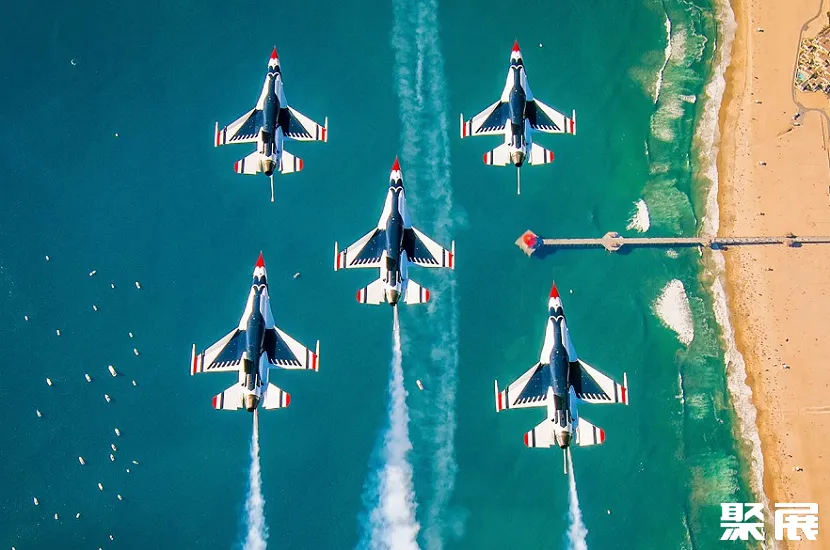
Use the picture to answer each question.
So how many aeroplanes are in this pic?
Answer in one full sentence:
Altogether the scene contains 5 aeroplanes.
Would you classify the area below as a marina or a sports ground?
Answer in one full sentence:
This image shows a marina.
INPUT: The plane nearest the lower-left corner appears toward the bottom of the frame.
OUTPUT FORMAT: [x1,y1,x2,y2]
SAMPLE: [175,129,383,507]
[191,252,318,435]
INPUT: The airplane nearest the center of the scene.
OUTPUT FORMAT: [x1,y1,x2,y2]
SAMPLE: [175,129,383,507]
[335,159,453,328]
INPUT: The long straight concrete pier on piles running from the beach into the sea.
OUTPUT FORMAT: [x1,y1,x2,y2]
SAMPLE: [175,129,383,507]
[516,229,830,256]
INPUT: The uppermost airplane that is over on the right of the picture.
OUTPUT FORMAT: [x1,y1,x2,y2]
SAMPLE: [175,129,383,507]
[461,45,575,194]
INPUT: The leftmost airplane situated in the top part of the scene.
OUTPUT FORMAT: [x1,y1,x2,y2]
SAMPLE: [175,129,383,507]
[214,48,327,200]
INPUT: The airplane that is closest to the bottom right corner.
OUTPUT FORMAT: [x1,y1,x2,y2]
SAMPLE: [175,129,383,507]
[496,282,627,473]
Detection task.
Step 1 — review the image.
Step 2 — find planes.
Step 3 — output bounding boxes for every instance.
[214,48,327,200]
[496,282,627,473]
[191,252,318,435]
[461,45,575,194]
[335,159,453,328]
